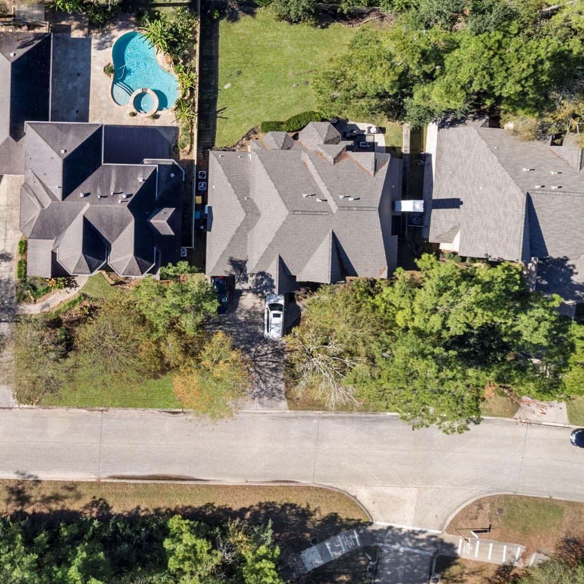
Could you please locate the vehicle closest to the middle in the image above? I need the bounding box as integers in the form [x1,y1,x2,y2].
[264,294,287,339]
